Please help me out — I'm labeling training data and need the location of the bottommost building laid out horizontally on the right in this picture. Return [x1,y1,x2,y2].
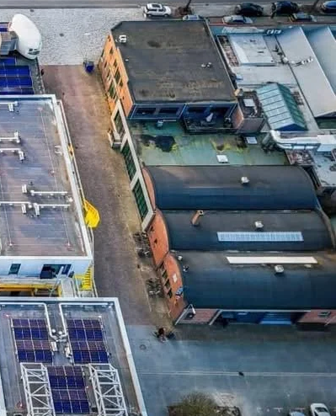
[153,249,336,333]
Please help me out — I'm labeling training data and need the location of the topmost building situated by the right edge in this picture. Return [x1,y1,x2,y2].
[208,16,336,143]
